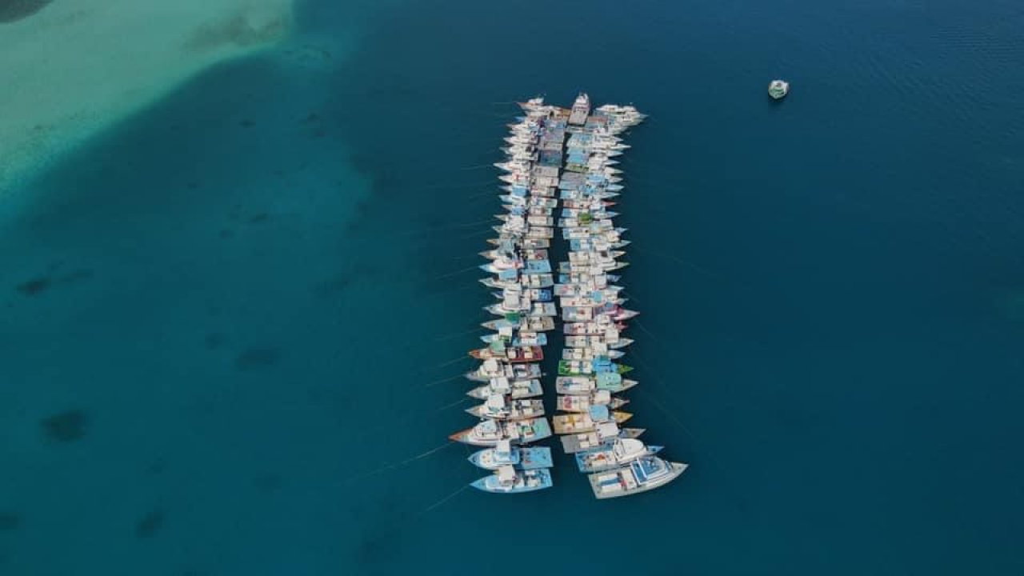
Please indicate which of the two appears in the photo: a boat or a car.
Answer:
boat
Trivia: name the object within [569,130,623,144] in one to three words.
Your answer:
boat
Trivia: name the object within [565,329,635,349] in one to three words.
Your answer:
boat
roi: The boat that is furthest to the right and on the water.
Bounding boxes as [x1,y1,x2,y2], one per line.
[768,76,788,103]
